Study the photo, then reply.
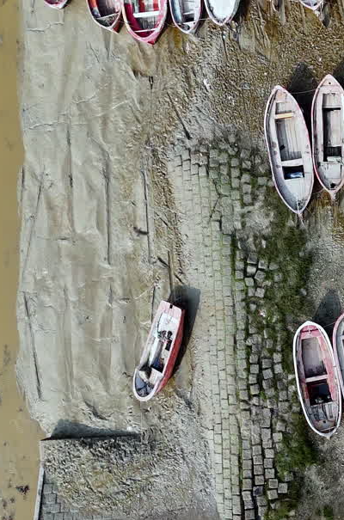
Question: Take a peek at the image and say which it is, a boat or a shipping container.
boat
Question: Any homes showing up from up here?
No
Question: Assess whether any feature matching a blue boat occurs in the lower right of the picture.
No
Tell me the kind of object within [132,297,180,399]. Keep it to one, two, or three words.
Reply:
boat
